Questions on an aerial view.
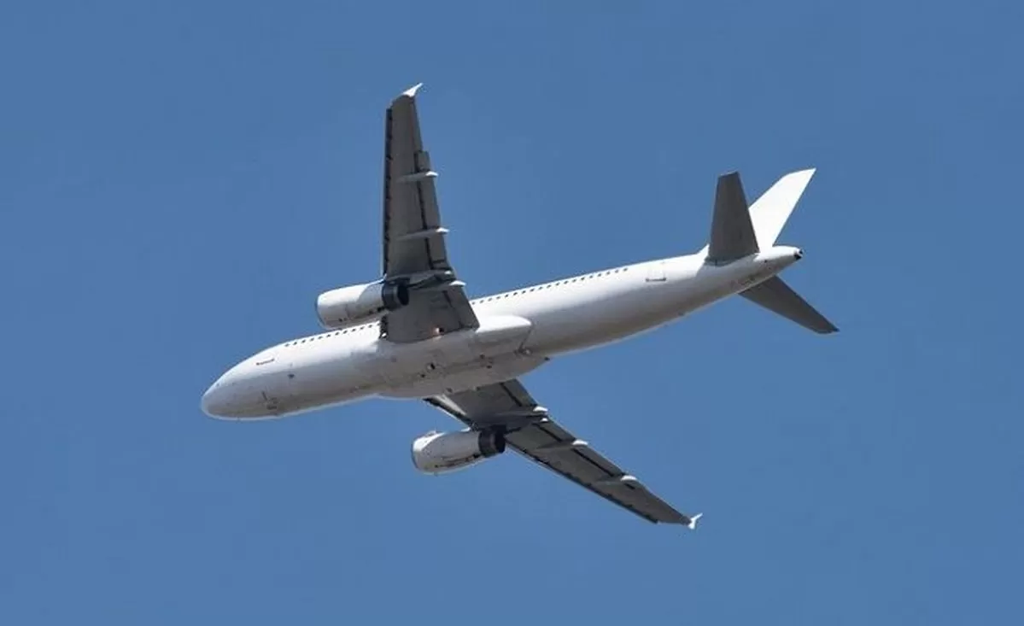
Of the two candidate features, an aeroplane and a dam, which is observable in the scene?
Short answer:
aeroplane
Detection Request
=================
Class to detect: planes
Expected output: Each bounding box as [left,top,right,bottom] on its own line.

[203,81,838,529]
